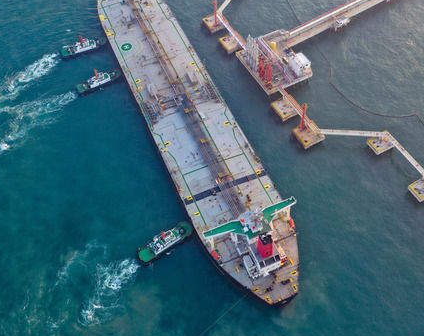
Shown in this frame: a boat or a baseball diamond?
boat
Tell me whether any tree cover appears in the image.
No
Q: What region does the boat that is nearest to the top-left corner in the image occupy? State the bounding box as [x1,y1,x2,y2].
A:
[58,36,107,62]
